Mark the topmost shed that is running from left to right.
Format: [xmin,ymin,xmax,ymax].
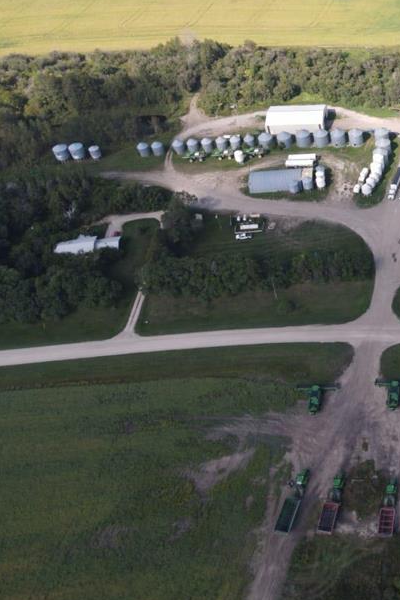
[264,104,329,137]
